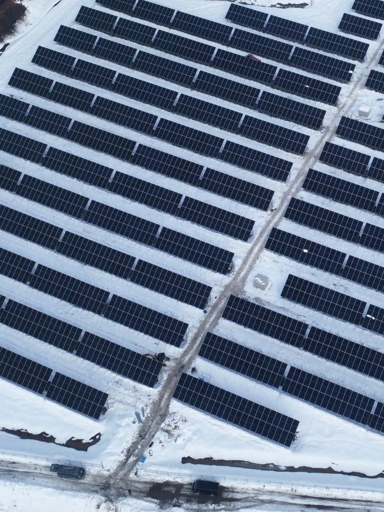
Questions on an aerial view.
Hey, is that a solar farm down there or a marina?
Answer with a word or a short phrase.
solar farm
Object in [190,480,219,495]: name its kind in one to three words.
vehicle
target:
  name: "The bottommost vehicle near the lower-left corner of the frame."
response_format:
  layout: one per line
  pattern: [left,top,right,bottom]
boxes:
[47,462,84,479]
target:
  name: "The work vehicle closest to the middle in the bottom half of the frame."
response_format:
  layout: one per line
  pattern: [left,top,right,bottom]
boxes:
[142,349,169,367]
